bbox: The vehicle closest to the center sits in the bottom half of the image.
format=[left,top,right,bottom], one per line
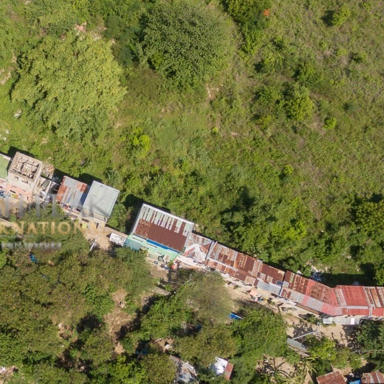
[105,231,129,249]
